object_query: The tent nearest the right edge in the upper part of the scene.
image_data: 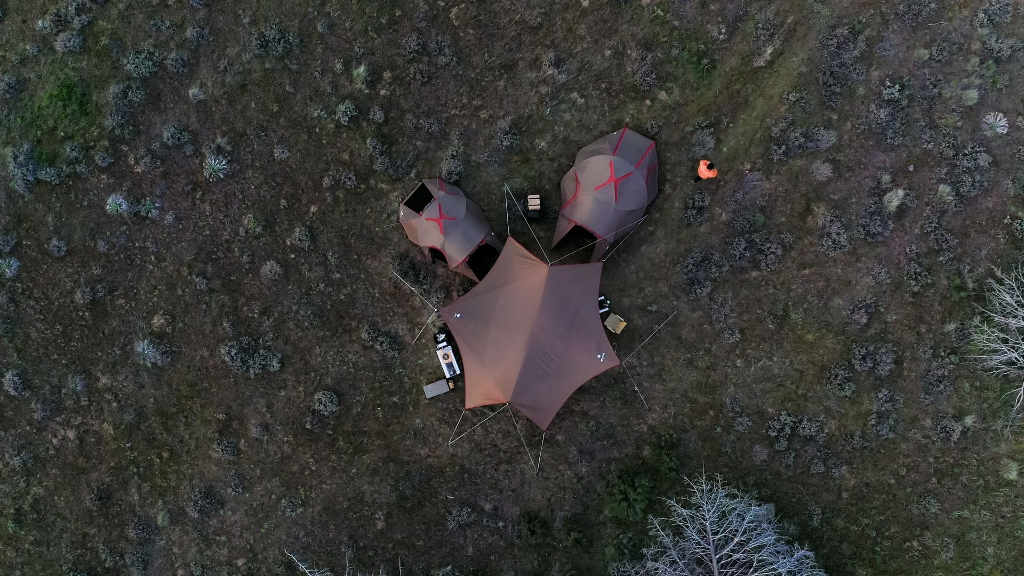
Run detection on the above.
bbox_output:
[537,126,664,264]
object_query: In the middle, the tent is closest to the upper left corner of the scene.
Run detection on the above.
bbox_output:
[386,170,515,286]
